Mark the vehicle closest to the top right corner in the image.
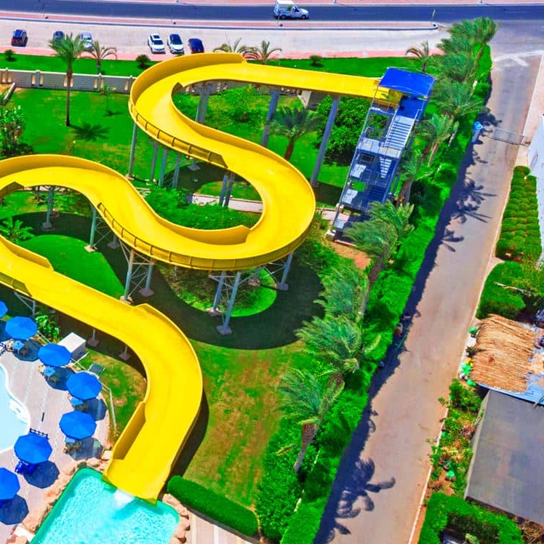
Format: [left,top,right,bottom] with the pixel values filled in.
[273,6,310,23]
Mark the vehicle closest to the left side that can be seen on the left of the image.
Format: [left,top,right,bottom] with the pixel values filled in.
[11,33,27,49]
